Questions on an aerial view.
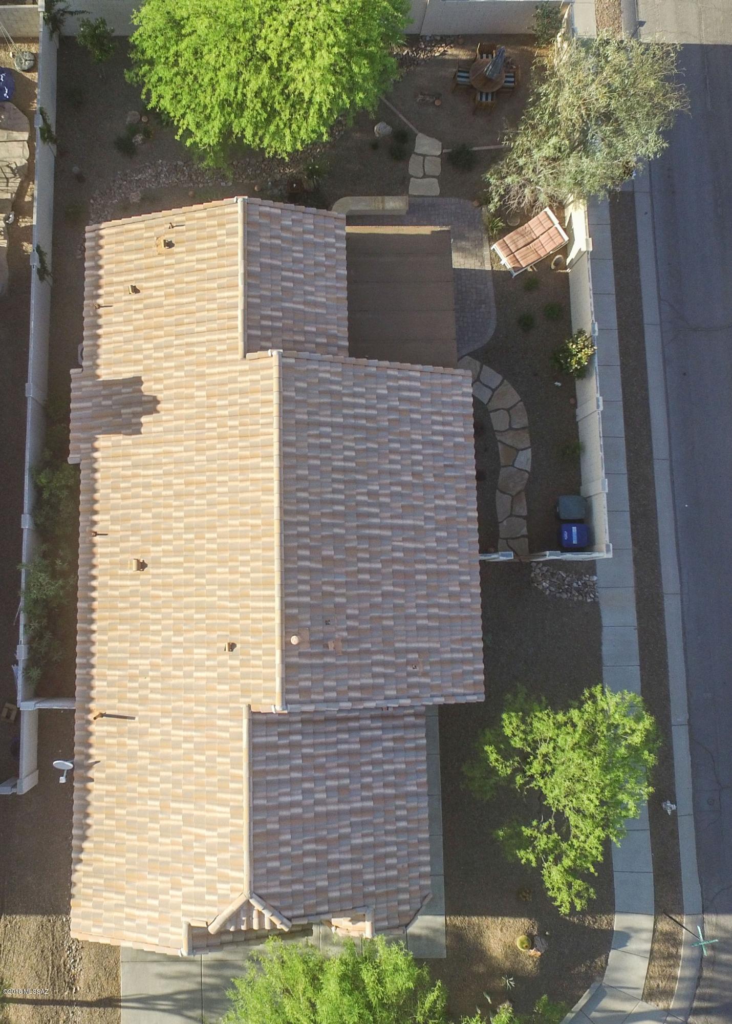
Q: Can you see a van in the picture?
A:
No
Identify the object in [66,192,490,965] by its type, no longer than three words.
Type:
house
